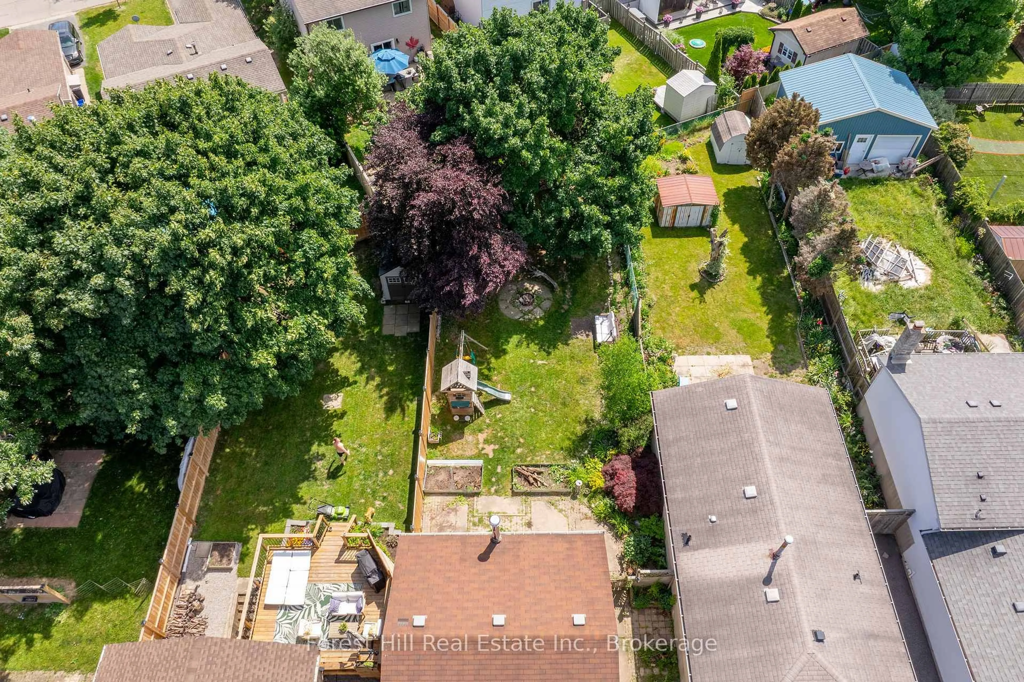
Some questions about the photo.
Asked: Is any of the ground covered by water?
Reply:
No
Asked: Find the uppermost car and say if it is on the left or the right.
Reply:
left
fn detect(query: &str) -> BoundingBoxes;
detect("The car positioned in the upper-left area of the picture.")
[42,16,84,58]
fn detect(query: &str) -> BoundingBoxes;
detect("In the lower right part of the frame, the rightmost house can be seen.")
[858,314,1024,682]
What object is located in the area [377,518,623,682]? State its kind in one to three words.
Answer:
house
